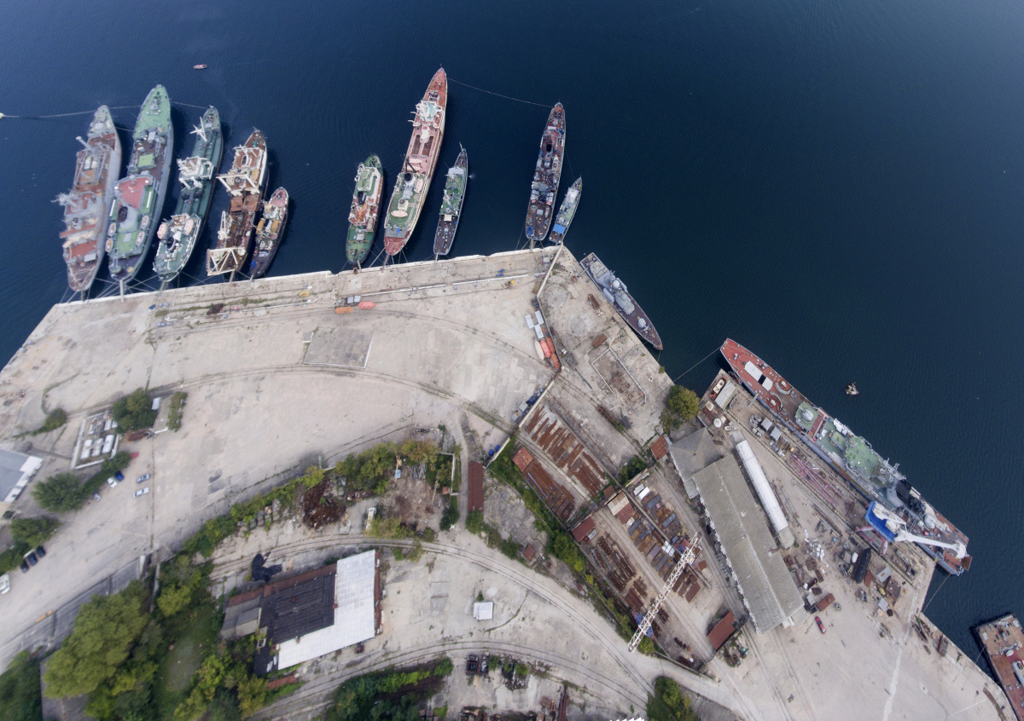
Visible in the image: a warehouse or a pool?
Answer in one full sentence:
The image shows a warehouse.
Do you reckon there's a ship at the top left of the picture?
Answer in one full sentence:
Yes, at the top left of the picture there is a ship.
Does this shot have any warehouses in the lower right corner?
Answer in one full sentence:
Yes, looking in the lower right corner, one can make out a warehouse.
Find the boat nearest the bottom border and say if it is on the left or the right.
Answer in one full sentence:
The boat nearest the bottom border is on the right side of the image.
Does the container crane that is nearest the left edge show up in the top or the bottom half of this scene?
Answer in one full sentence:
The container crane that is nearest the left edge is in the bottom half of the image.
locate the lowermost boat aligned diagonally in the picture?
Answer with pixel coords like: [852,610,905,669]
[983,688,1005,721]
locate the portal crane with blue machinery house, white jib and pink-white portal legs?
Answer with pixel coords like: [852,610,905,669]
[854,501,966,563]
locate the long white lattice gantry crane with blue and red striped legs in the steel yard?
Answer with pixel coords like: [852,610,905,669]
[626,533,705,655]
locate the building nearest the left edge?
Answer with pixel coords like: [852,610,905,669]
[0,447,54,503]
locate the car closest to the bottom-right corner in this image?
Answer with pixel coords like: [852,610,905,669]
[814,617,827,635]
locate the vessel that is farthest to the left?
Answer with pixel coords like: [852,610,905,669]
[52,101,124,291]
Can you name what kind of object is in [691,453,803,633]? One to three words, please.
warehouse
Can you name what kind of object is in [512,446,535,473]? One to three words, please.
shed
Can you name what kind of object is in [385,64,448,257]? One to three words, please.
ship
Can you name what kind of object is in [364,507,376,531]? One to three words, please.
vehicle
